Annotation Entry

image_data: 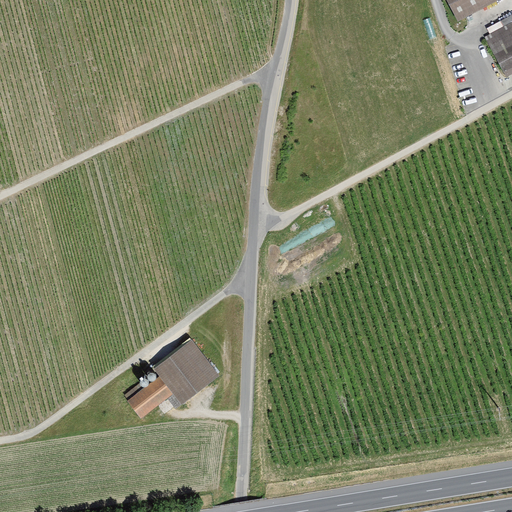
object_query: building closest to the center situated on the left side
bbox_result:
[154,338,218,404]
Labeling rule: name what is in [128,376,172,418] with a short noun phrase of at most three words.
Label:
building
